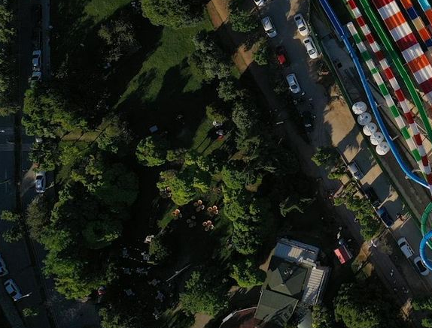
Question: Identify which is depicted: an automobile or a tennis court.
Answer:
automobile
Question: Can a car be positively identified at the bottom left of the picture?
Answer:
Yes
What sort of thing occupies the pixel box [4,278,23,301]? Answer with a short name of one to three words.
car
